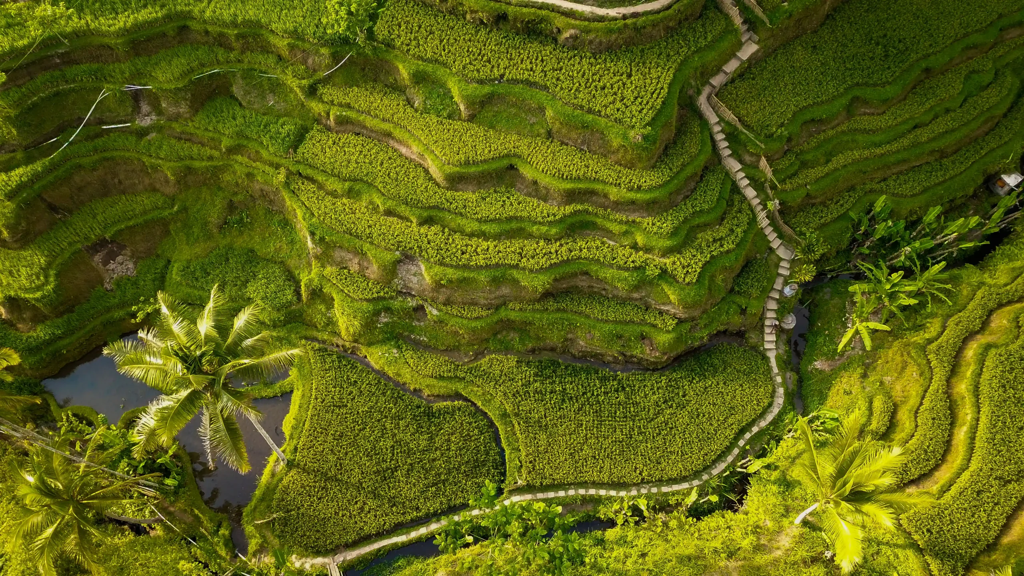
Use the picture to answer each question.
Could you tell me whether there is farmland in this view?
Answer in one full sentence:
Yes, farmland shows up in the scene.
